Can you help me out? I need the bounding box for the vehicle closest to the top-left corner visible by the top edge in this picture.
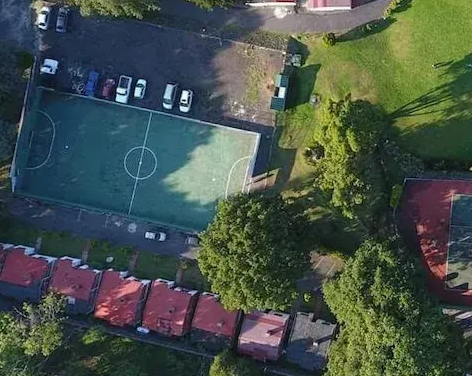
[37,6,51,30]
